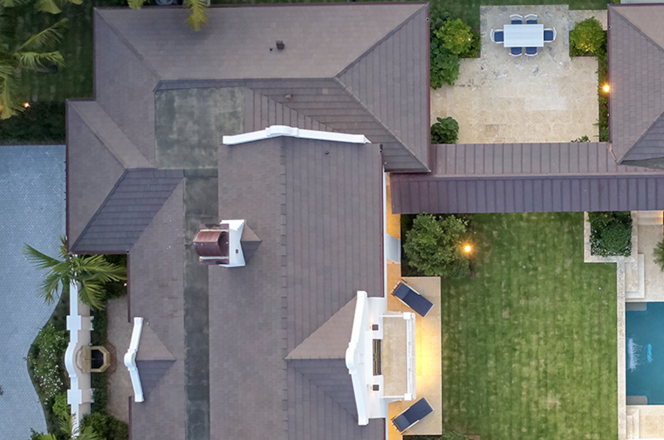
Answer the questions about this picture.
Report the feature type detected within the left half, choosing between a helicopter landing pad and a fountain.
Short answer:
fountain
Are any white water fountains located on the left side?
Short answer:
No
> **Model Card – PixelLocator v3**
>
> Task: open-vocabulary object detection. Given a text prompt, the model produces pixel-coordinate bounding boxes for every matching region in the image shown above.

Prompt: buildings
[605,0,664,173]
[63,0,436,440]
